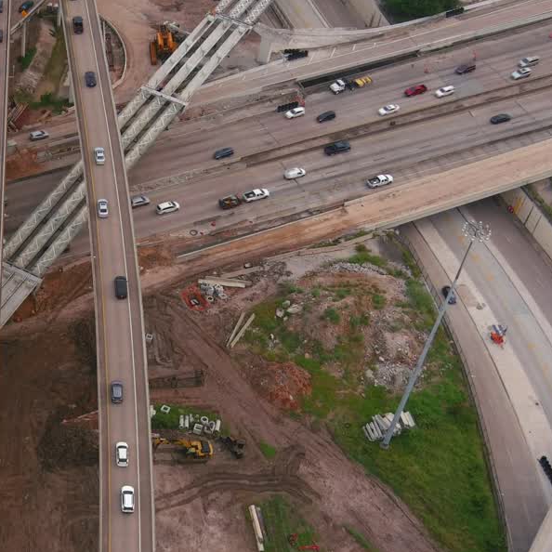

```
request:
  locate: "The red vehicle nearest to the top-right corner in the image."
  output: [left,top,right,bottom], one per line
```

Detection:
[403,84,429,96]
